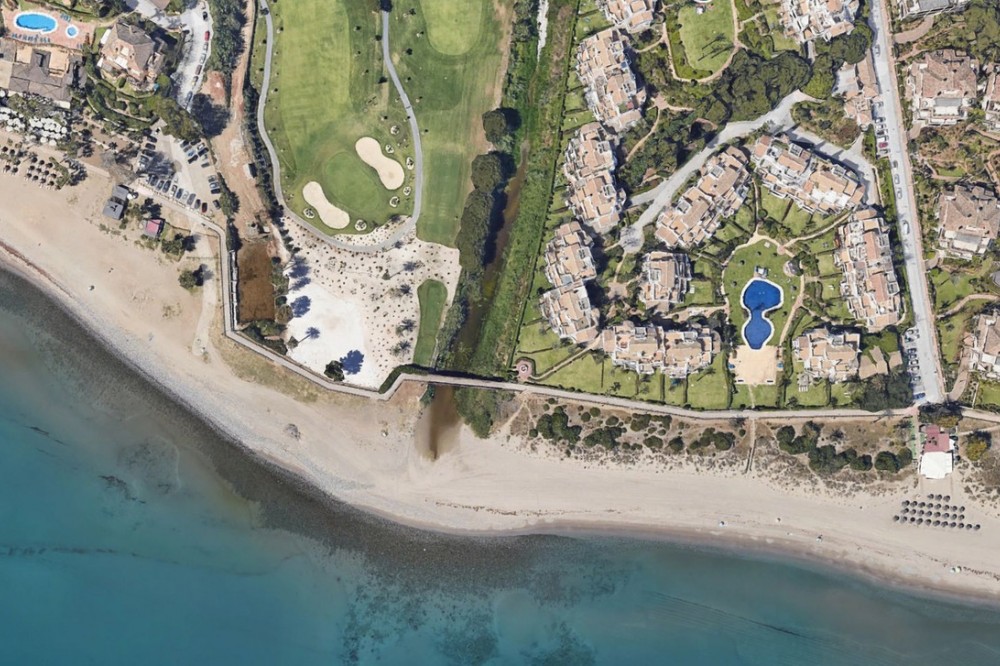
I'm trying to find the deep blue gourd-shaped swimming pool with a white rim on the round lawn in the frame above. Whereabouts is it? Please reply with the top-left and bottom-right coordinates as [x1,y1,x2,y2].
[741,278,783,352]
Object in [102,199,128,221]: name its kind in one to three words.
shed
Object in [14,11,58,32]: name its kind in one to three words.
swimming pool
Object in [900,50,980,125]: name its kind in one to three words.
house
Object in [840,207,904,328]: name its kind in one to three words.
building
